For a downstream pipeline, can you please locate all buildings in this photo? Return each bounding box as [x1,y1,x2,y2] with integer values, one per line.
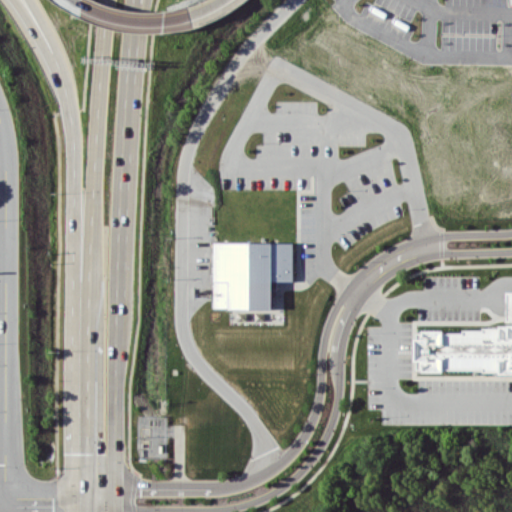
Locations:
[213,244,294,310]
[414,325,512,376]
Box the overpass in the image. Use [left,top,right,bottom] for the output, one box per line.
[50,0,256,34]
